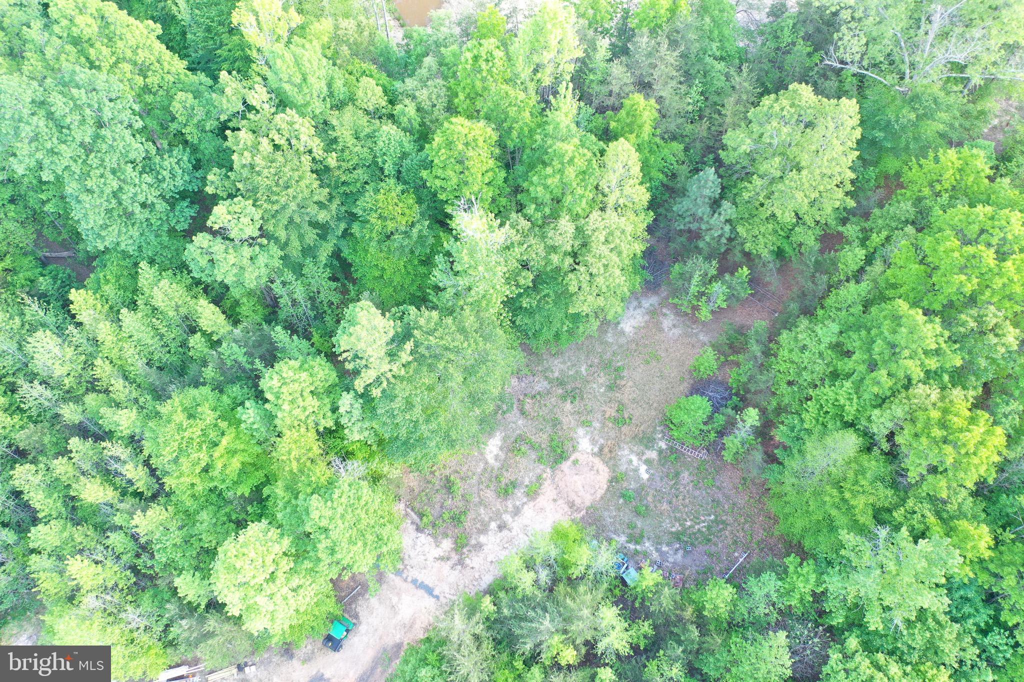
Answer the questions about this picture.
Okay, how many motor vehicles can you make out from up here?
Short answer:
1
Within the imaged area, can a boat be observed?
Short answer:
No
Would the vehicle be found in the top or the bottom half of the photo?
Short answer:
bottom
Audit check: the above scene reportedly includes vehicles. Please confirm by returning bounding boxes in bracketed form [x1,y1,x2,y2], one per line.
[322,616,357,655]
